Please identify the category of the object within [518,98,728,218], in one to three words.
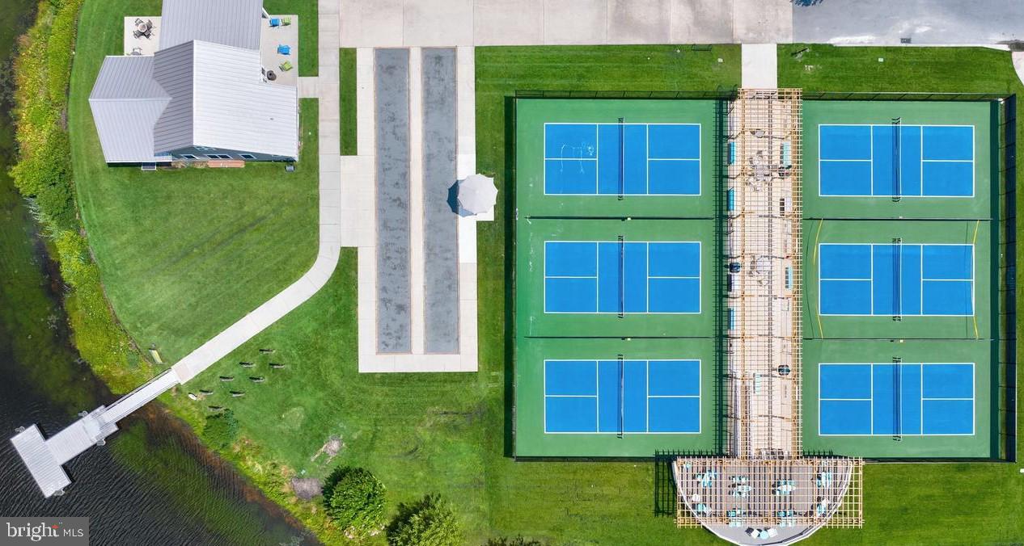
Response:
sports court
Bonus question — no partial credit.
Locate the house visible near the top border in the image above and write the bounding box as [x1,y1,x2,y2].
[89,0,302,169]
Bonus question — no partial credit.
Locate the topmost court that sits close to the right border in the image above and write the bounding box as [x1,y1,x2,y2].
[797,100,1000,219]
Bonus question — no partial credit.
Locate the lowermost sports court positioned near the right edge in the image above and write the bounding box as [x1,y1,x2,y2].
[797,339,1000,457]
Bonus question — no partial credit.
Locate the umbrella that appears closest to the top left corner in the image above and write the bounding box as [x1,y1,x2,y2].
[455,173,499,216]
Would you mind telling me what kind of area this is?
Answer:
sports ground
